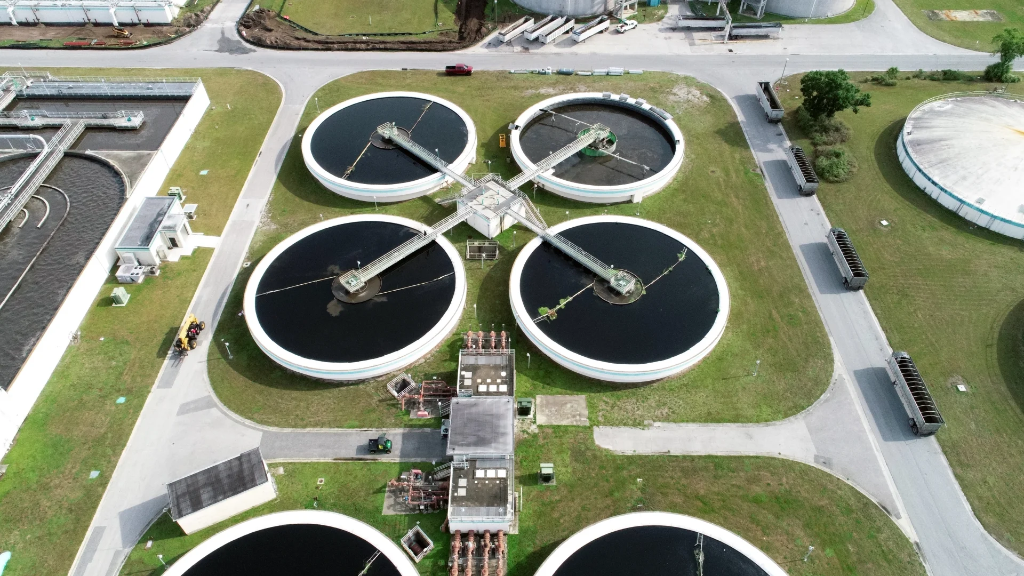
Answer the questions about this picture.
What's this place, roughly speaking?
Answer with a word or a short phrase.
industrial area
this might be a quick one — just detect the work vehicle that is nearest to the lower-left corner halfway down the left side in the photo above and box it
[171,312,203,360]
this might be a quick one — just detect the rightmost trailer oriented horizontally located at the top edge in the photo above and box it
[728,23,782,42]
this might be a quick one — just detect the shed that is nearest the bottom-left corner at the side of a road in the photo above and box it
[165,443,276,534]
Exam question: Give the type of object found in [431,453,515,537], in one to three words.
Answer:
building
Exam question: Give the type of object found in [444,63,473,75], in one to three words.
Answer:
vehicle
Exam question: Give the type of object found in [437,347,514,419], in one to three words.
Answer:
building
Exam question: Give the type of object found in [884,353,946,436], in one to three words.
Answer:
trailer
